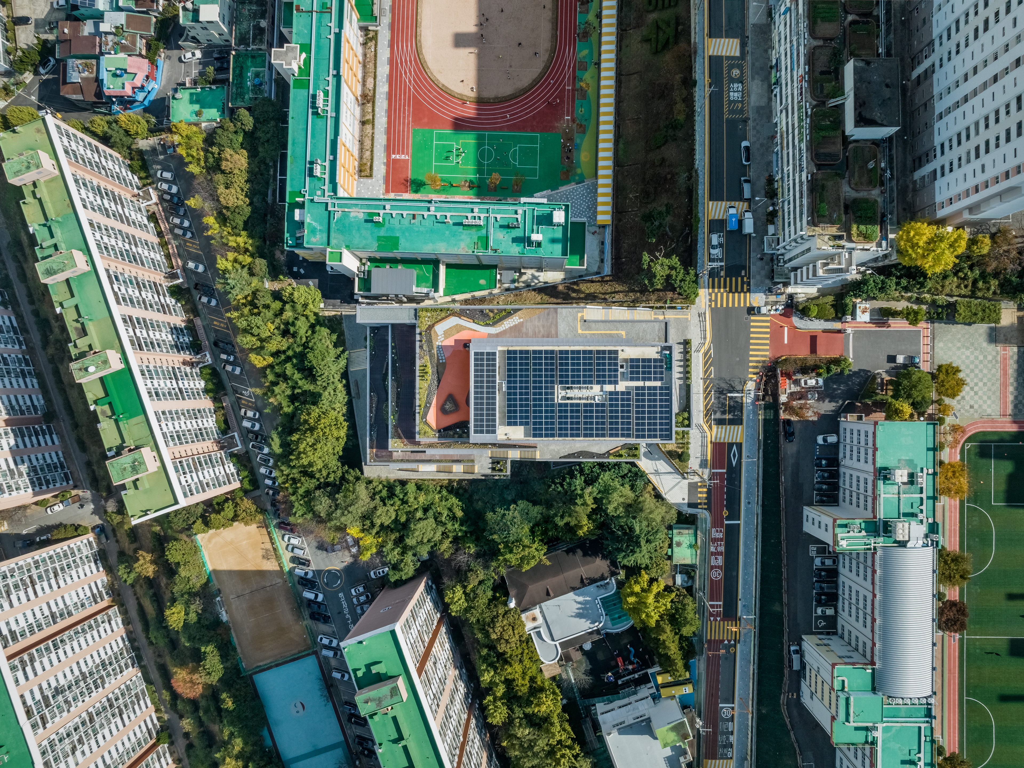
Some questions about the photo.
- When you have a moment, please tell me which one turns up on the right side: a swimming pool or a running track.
running track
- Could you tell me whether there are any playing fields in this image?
Yes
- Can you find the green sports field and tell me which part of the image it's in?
bottom right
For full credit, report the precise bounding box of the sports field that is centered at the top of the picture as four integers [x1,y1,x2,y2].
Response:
[417,0,557,104]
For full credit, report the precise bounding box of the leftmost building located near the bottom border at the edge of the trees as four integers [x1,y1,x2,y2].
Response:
[0,537,169,768]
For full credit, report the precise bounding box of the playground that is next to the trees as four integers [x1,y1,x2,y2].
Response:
[571,629,664,695]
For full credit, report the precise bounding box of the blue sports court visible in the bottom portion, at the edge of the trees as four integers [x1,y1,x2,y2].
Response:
[248,650,356,768]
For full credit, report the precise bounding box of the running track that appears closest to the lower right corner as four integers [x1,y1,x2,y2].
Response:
[948,420,1024,764]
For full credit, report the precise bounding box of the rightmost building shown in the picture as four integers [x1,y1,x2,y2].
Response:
[911,0,1024,229]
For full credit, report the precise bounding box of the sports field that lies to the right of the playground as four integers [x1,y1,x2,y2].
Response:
[959,431,1024,768]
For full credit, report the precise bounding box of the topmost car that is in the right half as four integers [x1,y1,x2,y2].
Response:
[740,141,752,165]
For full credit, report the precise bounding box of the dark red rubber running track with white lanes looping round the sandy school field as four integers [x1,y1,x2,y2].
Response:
[386,0,578,193]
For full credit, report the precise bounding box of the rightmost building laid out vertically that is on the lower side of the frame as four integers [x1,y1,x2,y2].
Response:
[801,418,941,768]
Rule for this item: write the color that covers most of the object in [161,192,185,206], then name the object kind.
black vehicle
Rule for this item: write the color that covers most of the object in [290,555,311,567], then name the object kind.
black vehicle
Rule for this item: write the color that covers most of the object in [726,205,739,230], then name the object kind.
blue vehicle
